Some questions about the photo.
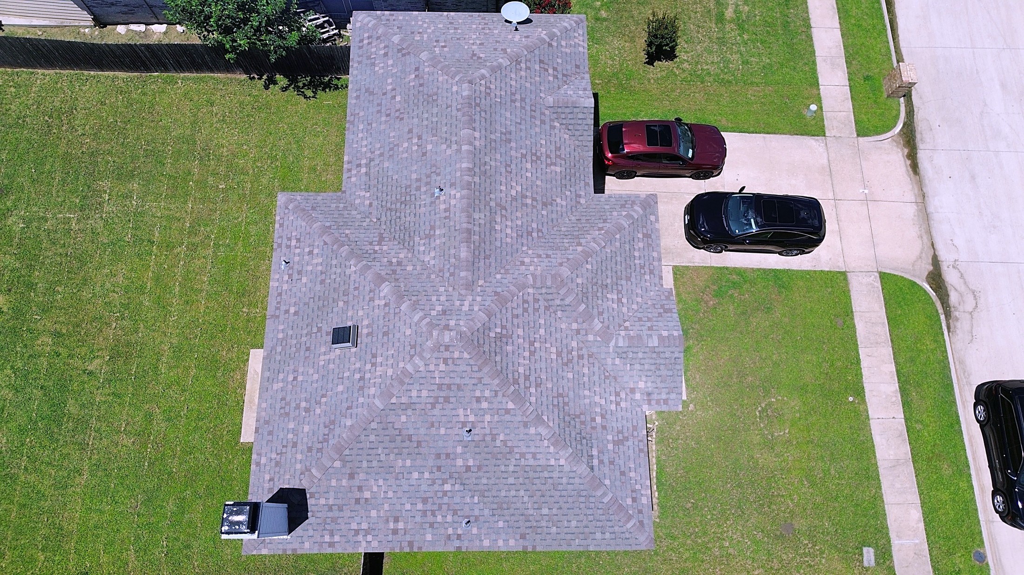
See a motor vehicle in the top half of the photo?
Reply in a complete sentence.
Yes, looking in the top half of the photo, one can make out a motor vehicle.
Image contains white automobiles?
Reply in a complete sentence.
No, there's no white automobile here.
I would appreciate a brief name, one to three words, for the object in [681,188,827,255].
car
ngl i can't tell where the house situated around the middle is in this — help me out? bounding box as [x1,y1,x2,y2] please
[219,10,686,554]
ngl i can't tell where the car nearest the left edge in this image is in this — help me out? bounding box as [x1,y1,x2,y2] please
[598,115,728,179]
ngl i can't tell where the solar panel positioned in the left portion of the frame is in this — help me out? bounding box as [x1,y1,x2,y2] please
[331,321,350,345]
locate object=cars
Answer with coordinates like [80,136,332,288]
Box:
[598,115,728,179]
[681,188,827,255]
[973,380,1024,532]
